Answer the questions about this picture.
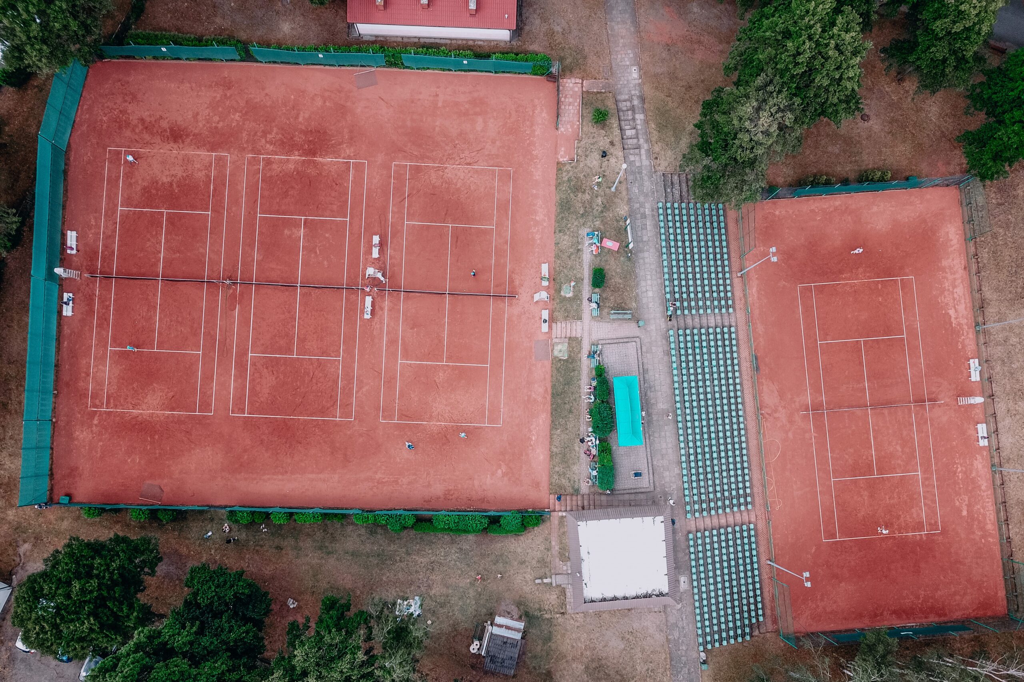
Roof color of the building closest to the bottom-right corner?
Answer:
white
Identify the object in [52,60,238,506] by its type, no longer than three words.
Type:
tennis court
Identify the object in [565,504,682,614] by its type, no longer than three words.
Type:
building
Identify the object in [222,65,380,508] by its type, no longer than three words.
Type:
tennis court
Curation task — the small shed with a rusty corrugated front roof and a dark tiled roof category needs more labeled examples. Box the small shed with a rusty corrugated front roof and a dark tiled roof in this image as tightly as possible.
[484,611,525,674]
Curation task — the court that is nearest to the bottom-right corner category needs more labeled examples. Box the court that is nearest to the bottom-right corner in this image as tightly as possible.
[751,188,1007,636]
